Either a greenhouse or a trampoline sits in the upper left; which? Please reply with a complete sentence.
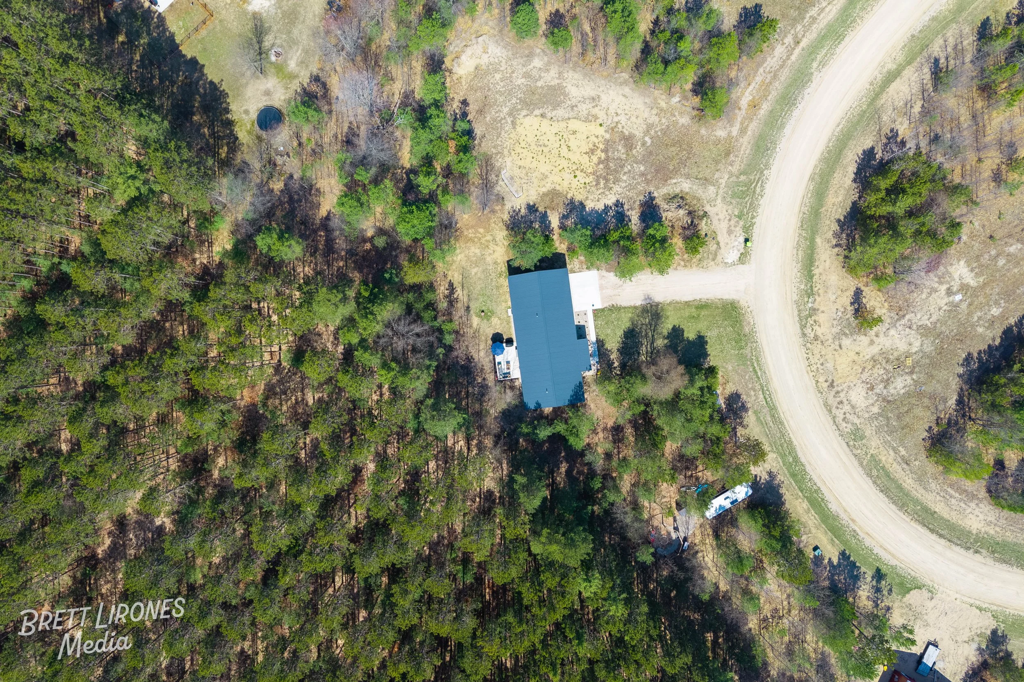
The one visible in the upper left is a trampoline.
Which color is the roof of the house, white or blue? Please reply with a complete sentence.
From above, the roof of the house appears blue.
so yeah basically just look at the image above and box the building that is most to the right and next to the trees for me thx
[508,268,592,409]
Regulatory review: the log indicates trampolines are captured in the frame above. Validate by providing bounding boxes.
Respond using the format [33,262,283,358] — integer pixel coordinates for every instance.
[256,105,283,132]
